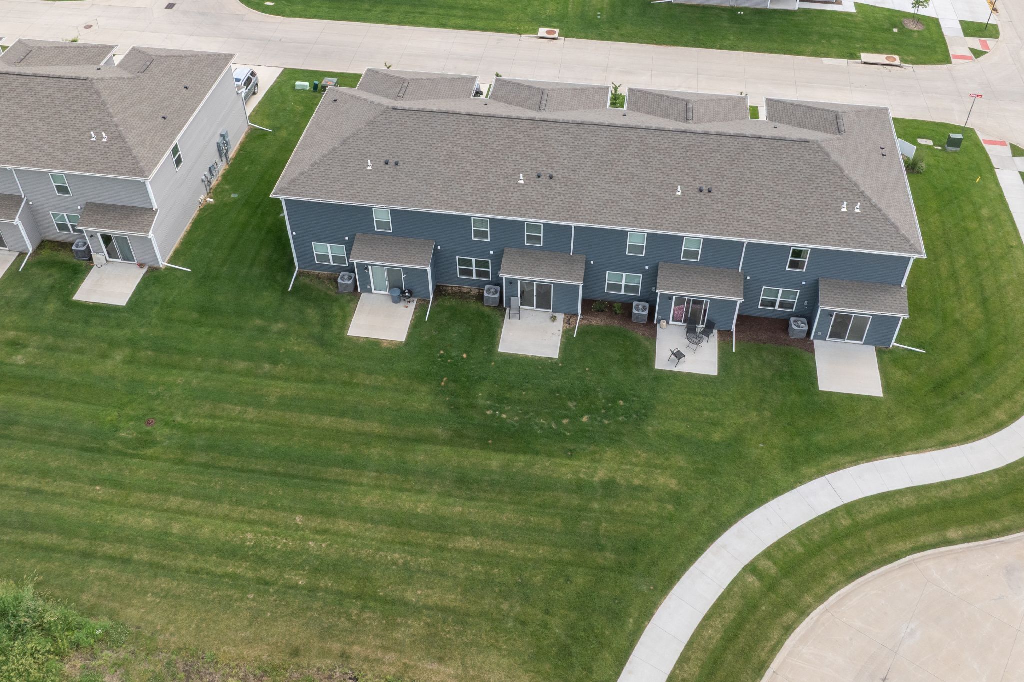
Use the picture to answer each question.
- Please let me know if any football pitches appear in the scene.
No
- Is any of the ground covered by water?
No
